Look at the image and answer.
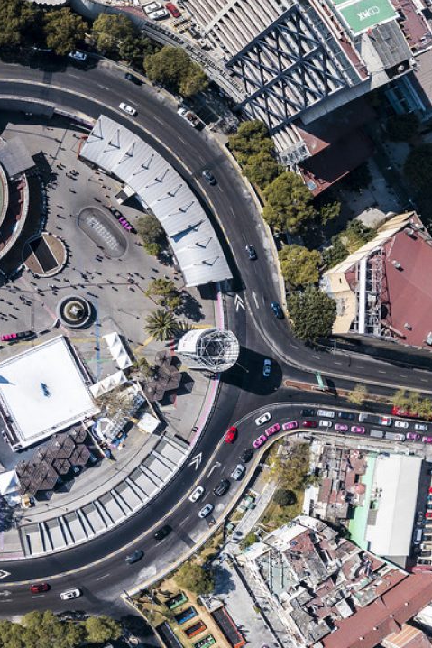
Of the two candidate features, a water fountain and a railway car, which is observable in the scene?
water fountain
